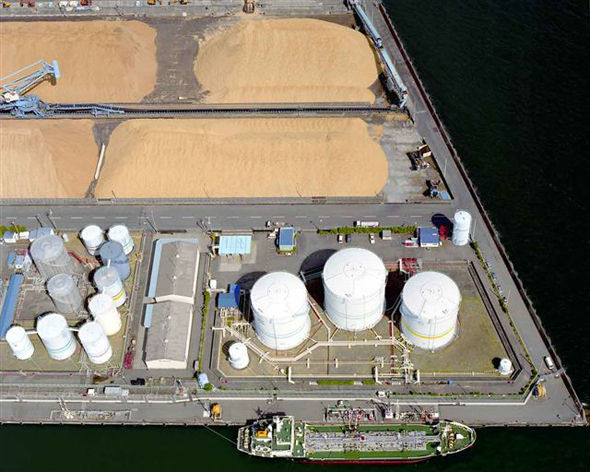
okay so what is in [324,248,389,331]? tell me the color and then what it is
white storage tank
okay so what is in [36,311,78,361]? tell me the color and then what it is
white storage tank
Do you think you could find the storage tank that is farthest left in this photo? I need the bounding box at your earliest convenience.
[5,324,36,361]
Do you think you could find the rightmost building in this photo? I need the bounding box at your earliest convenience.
[419,227,442,248]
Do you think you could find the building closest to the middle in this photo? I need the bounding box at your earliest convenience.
[279,228,294,254]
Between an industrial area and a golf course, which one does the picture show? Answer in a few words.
industrial area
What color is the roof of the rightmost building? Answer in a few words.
blue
